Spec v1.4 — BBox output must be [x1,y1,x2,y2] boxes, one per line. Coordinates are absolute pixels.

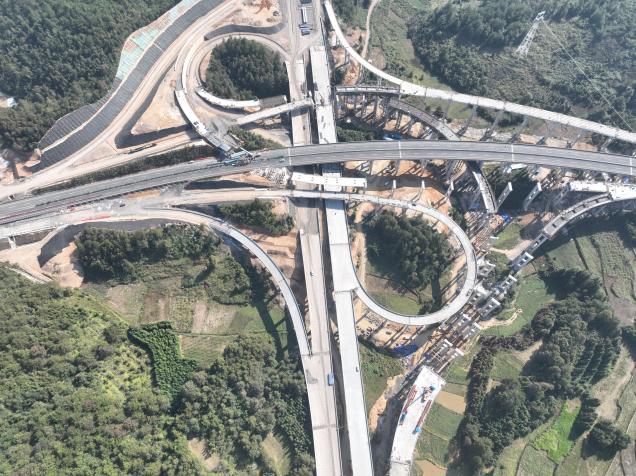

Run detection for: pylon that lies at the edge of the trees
[516,10,546,58]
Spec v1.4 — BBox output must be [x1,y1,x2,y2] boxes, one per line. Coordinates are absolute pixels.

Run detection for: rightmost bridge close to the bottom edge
[388,366,445,476]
